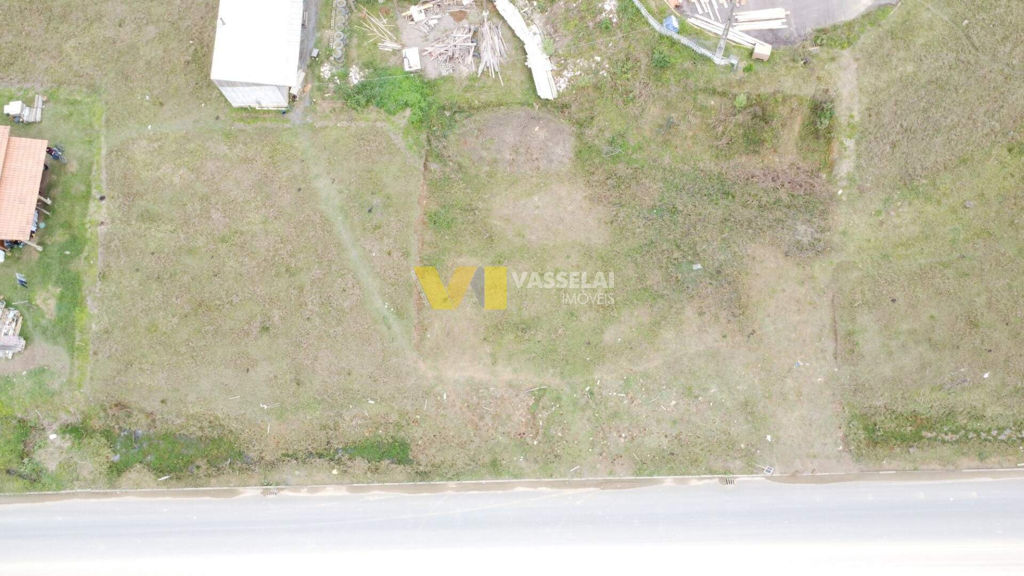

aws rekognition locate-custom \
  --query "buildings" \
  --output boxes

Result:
[210,0,304,107]
[0,125,53,251]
